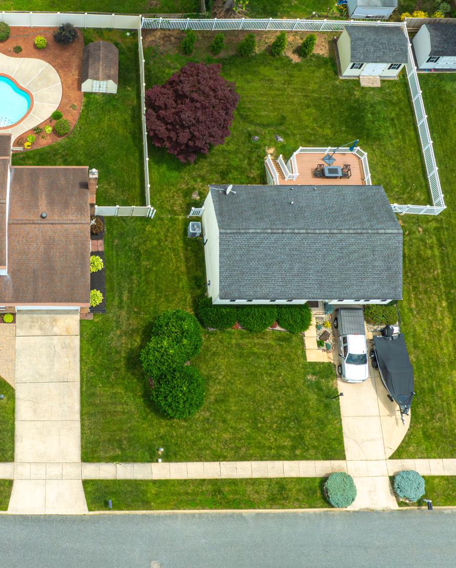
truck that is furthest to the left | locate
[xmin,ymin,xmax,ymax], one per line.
[335,303,373,382]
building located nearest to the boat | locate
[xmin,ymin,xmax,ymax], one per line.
[204,183,404,304]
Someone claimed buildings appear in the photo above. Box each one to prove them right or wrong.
[82,37,119,92]
[0,132,99,315]
[332,26,411,90]
[346,0,399,17]
[204,183,404,304]
[411,24,456,72]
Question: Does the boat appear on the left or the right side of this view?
right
